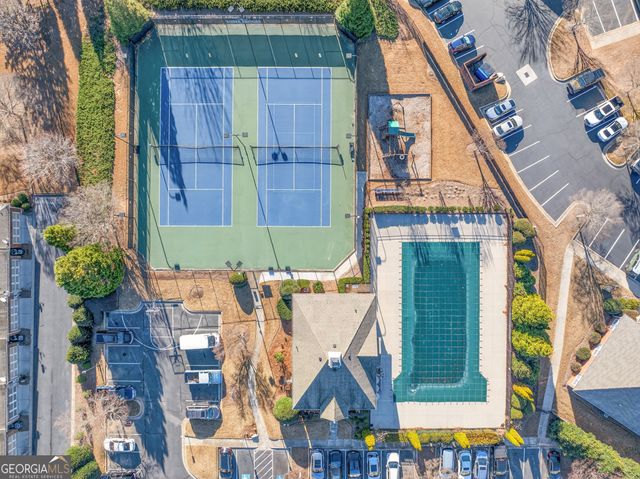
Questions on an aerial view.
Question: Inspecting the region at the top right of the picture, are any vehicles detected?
Yes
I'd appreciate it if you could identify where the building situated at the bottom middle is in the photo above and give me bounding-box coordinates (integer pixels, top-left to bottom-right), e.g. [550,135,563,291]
[291,293,381,425]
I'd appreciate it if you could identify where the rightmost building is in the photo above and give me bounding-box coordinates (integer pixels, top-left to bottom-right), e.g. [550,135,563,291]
[563,314,640,436]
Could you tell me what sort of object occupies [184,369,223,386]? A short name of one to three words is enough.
vehicle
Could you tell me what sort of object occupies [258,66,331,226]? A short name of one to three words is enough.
tennis court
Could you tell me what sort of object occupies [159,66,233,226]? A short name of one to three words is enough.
tennis court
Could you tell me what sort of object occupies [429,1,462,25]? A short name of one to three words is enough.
car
